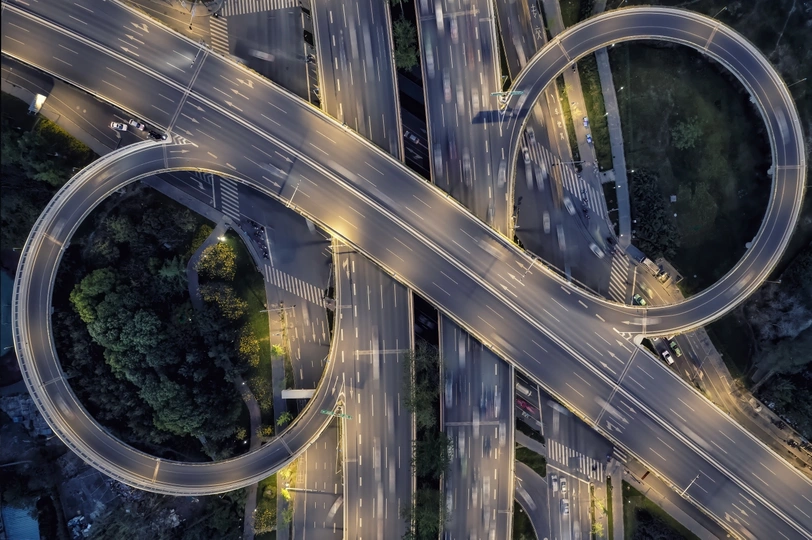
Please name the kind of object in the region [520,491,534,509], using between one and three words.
vehicle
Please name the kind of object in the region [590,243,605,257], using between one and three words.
car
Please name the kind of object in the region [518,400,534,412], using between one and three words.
vehicle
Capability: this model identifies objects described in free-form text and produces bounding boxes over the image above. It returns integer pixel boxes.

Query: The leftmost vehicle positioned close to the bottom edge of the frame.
[326,500,341,519]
